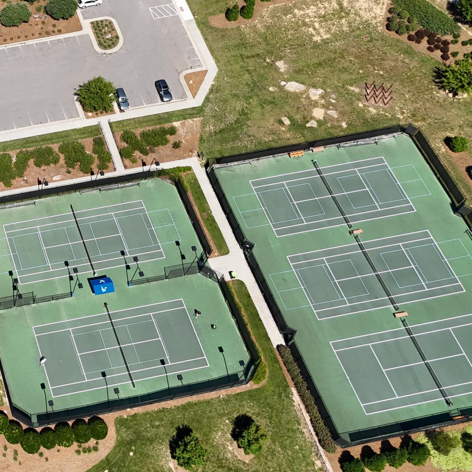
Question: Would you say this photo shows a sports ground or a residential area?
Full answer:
The picture captures a sports ground.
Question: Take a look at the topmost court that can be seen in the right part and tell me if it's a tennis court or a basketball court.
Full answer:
The topmost court that can be seen in the right part can be classified as a tennis court.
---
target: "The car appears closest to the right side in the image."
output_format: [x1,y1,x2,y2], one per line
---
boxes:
[155,77,173,102]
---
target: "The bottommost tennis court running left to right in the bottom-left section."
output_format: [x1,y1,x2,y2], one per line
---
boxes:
[0,273,251,415]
